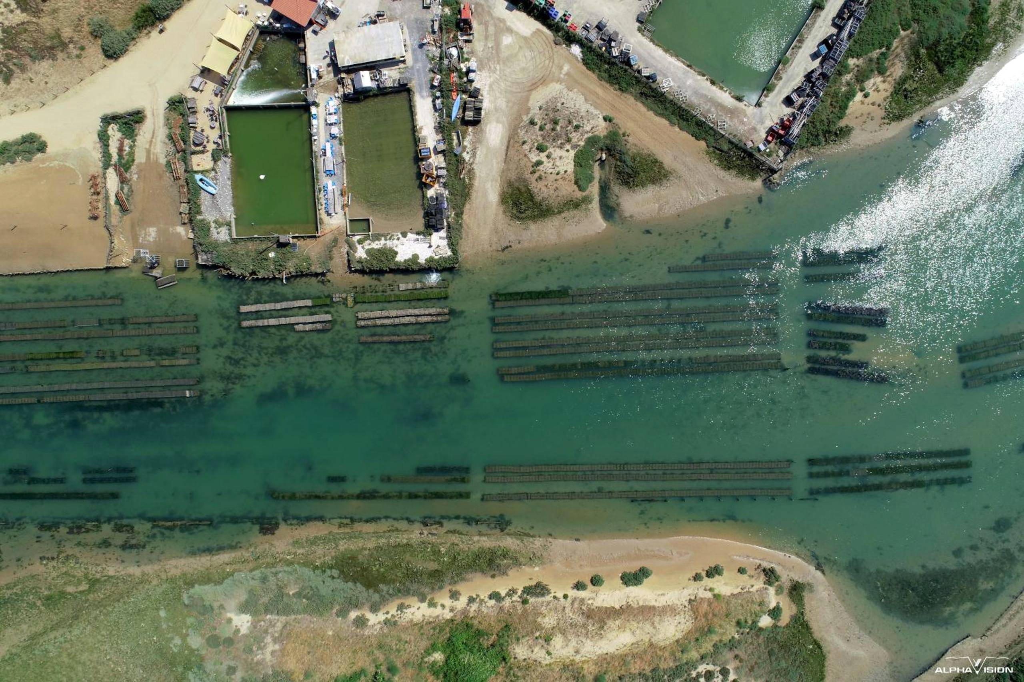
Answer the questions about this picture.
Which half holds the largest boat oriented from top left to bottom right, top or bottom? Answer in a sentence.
The top half of the photo is where the largest boat oriented from top left to bottom right is.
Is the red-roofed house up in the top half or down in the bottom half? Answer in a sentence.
You can find the red-roofed house in the top half.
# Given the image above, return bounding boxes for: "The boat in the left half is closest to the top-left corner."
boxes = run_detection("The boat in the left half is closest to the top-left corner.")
[195,174,220,197]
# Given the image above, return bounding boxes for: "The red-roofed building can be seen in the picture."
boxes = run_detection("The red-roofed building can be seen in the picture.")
[270,0,327,34]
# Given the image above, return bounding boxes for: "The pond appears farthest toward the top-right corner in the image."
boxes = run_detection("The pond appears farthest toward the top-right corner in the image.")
[652,0,818,107]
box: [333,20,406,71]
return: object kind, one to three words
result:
shed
